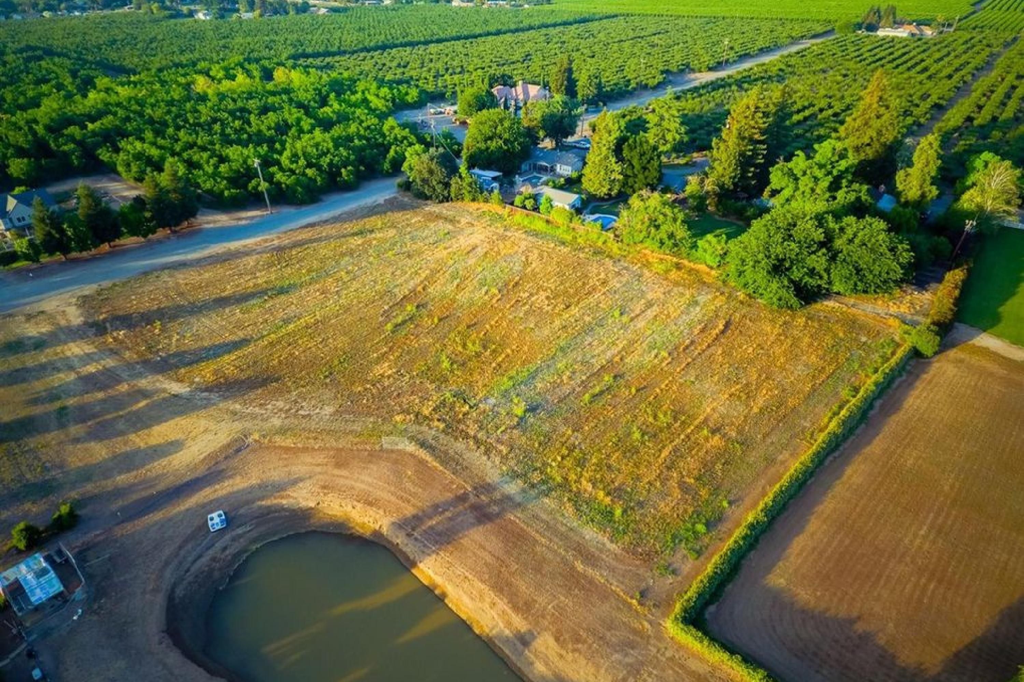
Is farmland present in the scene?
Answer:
Yes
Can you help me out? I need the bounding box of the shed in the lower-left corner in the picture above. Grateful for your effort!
[0,553,70,625]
